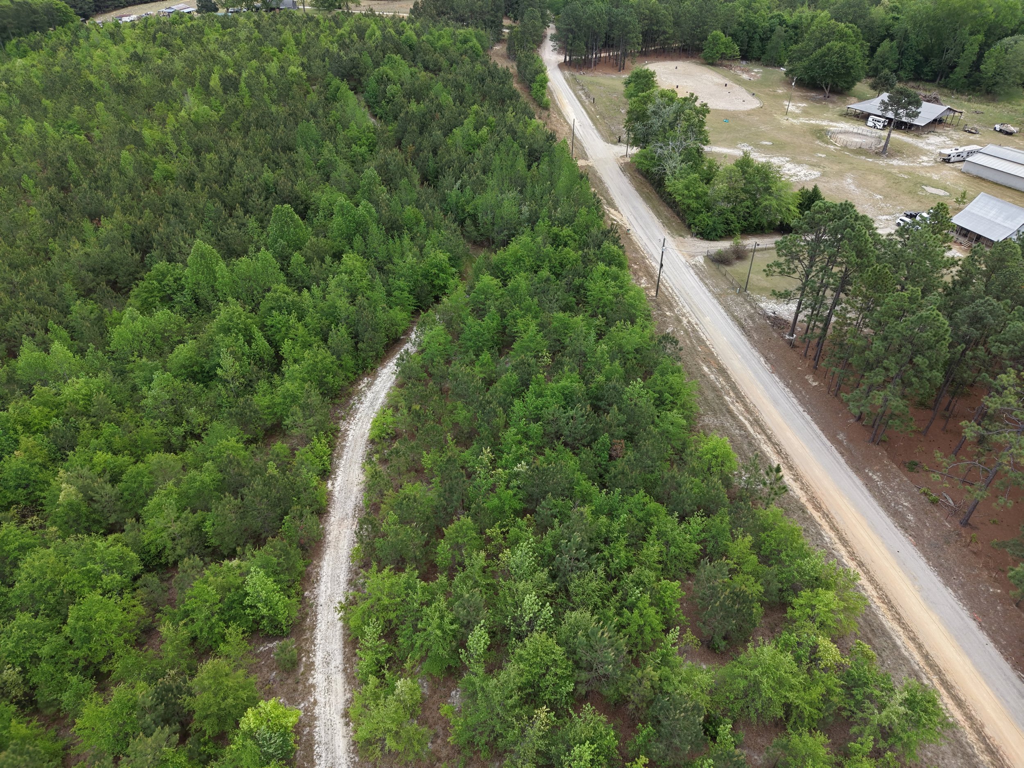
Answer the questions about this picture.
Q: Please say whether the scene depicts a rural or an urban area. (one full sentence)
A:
The area is rural.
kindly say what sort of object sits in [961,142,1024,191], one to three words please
shed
